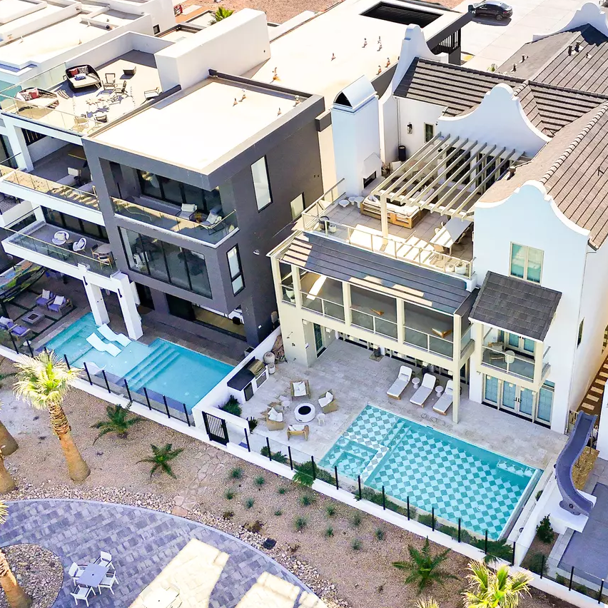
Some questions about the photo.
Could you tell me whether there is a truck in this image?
No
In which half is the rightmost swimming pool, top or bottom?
bottom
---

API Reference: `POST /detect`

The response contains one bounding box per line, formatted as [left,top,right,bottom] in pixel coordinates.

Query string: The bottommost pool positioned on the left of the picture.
[25,305,225,411]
